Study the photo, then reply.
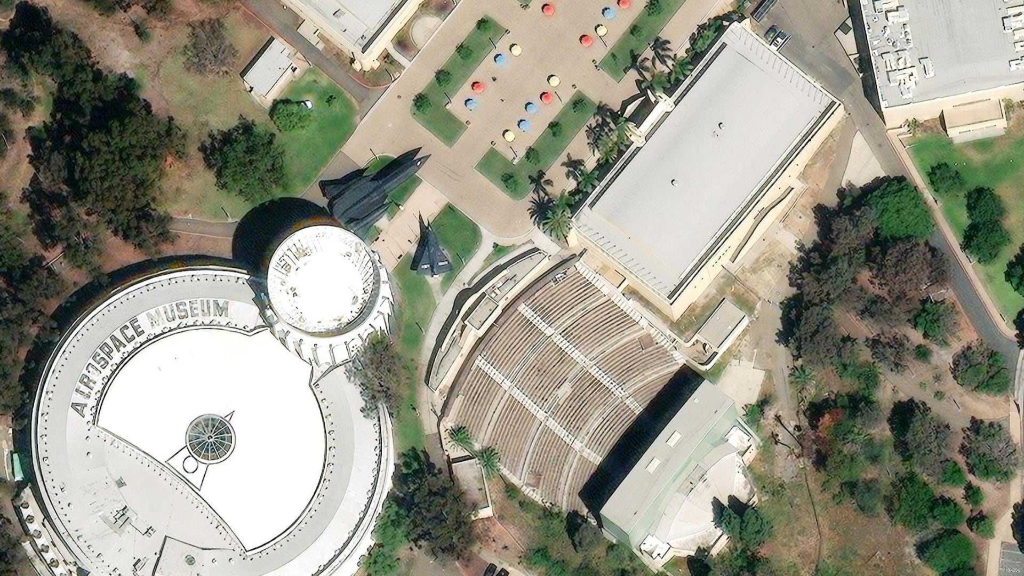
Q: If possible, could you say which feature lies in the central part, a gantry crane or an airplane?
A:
airplane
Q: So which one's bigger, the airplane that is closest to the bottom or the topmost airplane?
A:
the topmost airplane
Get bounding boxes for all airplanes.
[418,214,454,277]
[319,154,430,237]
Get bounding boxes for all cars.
[497,565,510,576]
[484,561,497,576]
[769,30,788,50]
[764,22,781,41]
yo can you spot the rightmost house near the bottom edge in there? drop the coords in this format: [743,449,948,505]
[600,380,763,576]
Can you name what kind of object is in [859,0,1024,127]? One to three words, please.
building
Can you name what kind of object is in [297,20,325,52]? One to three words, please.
shed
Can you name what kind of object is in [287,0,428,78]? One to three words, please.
building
